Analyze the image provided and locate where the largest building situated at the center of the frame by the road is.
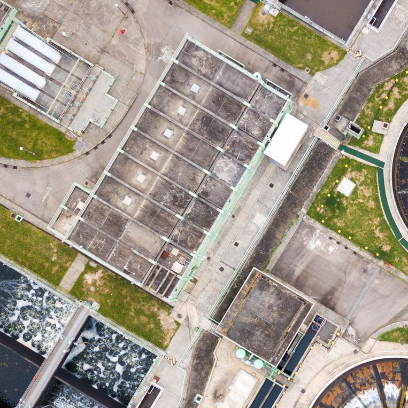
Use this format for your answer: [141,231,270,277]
[63,36,295,303]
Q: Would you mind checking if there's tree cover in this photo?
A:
No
